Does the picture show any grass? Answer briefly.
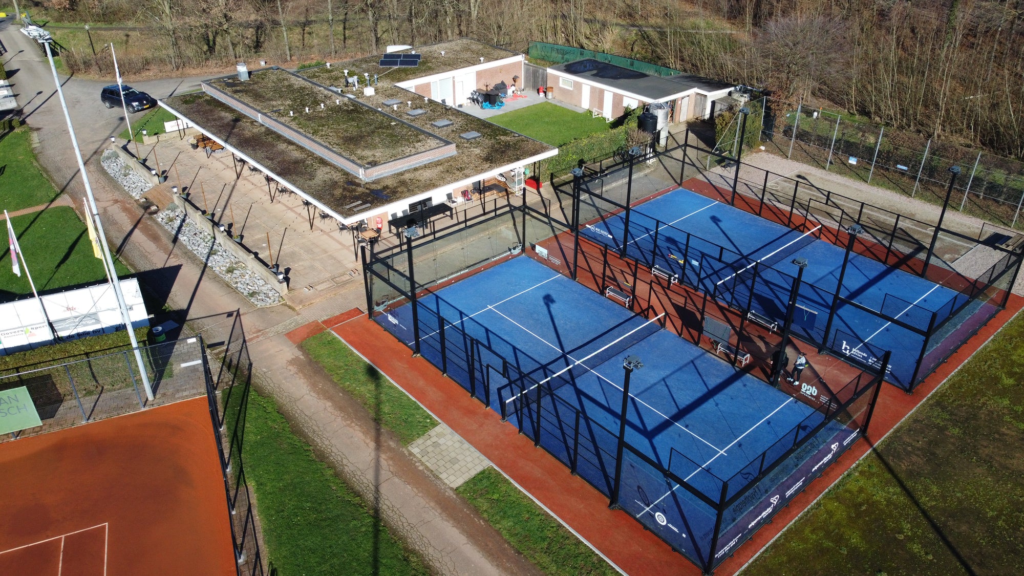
Yes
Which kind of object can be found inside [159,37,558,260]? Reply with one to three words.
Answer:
building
